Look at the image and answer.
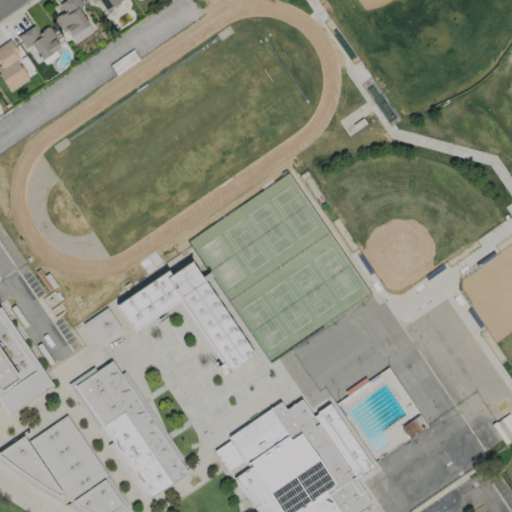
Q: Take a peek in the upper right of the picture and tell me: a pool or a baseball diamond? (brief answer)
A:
baseball diamond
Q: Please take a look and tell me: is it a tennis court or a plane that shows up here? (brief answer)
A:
tennis court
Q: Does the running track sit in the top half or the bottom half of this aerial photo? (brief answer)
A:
top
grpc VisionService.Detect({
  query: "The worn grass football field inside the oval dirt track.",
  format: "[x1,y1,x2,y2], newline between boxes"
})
[28,19,322,258]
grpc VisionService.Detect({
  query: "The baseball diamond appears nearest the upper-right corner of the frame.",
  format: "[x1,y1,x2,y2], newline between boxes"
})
[329,0,512,116]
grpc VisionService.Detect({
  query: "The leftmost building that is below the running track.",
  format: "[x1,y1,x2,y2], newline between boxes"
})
[0,308,54,415]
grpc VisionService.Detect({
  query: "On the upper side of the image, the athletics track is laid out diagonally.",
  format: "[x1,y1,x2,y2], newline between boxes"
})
[10,0,340,278]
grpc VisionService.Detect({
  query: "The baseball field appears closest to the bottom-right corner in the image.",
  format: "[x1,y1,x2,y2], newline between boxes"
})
[461,245,512,367]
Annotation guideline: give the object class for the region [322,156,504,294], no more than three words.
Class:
baseball field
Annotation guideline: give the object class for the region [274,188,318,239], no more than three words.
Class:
tennis court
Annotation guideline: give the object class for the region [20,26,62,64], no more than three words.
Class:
house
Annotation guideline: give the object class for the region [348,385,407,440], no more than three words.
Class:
swimming pool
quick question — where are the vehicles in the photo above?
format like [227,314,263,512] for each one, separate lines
[18,22,26,31]
[22,16,30,26]
[13,25,20,34]
[13,36,20,45]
